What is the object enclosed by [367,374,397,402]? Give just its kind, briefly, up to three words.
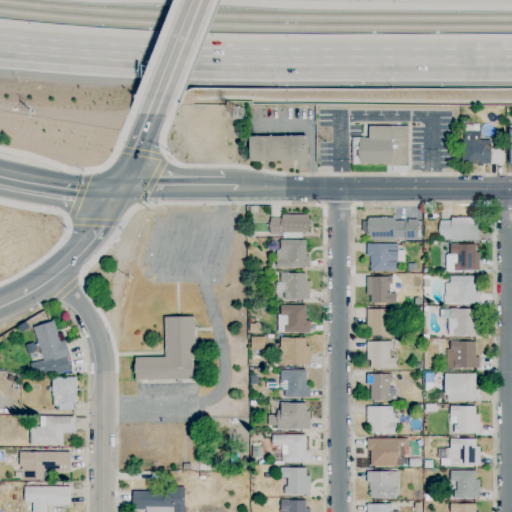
house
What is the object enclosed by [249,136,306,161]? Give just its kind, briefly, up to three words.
building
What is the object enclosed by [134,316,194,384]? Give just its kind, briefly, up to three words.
building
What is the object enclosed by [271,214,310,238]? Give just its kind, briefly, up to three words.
house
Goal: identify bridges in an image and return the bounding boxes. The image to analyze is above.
[126,0,220,118]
